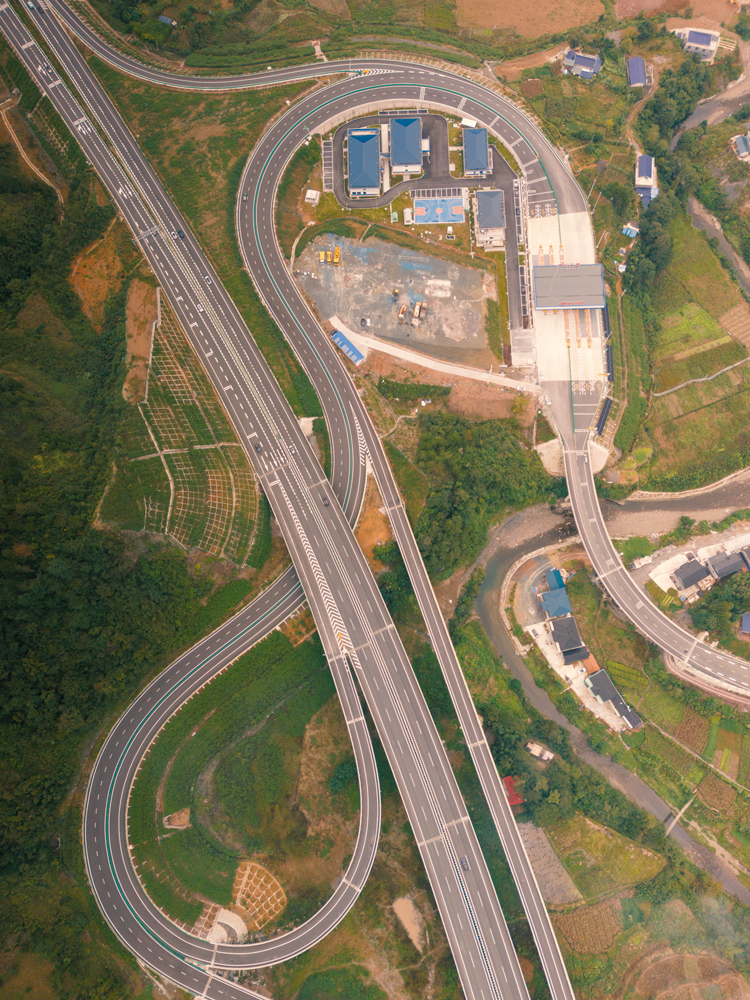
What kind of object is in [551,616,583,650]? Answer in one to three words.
house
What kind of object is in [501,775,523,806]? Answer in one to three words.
shed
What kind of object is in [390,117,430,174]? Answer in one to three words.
building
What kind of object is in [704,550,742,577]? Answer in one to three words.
house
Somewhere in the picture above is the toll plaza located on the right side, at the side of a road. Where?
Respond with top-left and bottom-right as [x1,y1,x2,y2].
[524,205,606,391]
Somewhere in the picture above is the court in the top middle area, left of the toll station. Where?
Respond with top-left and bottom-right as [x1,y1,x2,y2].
[412,198,467,224]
